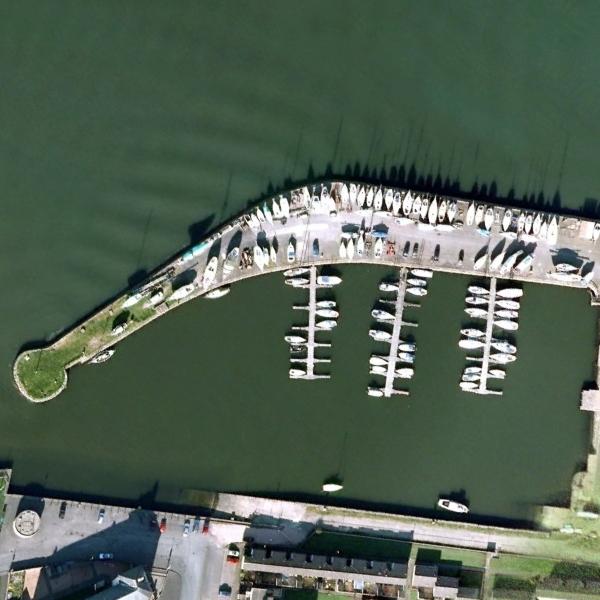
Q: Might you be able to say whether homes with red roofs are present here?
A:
No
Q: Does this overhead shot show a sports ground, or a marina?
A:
marina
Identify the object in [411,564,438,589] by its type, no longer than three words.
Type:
house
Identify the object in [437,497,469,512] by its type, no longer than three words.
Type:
boat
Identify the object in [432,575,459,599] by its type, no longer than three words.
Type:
house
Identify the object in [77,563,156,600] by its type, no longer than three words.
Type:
building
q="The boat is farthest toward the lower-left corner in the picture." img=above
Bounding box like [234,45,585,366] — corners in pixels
[88,350,116,364]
